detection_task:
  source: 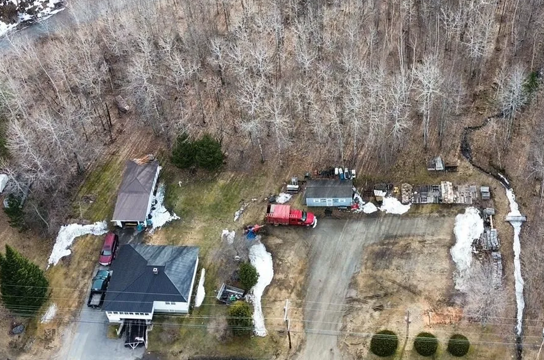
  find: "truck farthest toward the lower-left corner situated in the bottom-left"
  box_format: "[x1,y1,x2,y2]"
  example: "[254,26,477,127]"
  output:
[84,269,116,312]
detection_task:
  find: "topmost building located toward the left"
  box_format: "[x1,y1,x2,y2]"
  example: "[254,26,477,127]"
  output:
[109,155,160,230]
